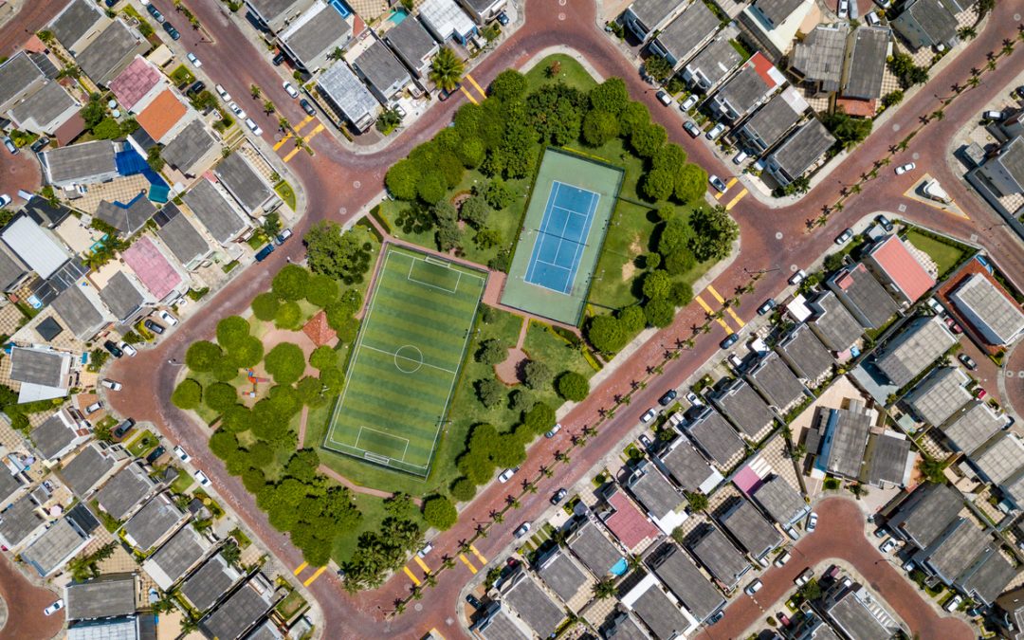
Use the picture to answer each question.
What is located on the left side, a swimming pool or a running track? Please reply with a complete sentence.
The one visible on the left side is a swimming pool.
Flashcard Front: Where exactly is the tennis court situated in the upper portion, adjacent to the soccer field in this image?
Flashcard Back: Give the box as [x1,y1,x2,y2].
[501,149,623,326]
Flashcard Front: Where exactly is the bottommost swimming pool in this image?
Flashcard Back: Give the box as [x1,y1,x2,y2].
[610,558,630,577]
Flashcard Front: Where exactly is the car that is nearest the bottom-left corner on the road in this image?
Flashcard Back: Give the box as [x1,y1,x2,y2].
[45,598,65,614]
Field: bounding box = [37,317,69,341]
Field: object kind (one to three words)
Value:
gazebo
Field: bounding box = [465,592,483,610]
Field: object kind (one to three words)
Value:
car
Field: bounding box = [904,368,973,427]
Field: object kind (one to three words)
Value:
house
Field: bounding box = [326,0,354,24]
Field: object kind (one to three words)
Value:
swimming pool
